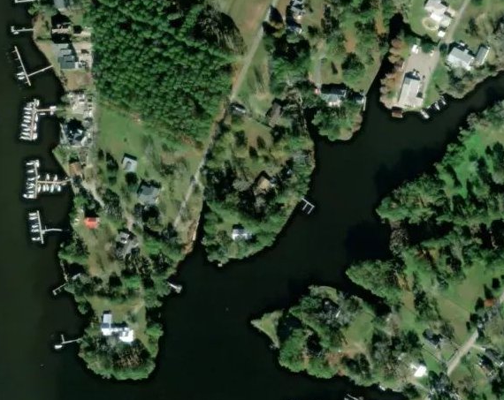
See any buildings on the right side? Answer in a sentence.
Yes, there is a building on the right side.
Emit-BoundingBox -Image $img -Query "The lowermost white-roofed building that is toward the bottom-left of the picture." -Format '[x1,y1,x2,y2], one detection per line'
[101,309,135,343]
